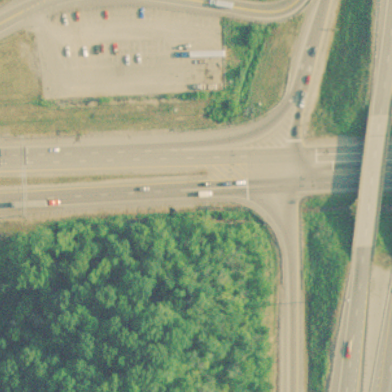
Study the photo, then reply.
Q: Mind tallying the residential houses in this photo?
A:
0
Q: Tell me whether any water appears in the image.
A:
No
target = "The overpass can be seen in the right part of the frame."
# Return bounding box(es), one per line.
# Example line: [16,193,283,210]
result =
[352,115,392,248]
